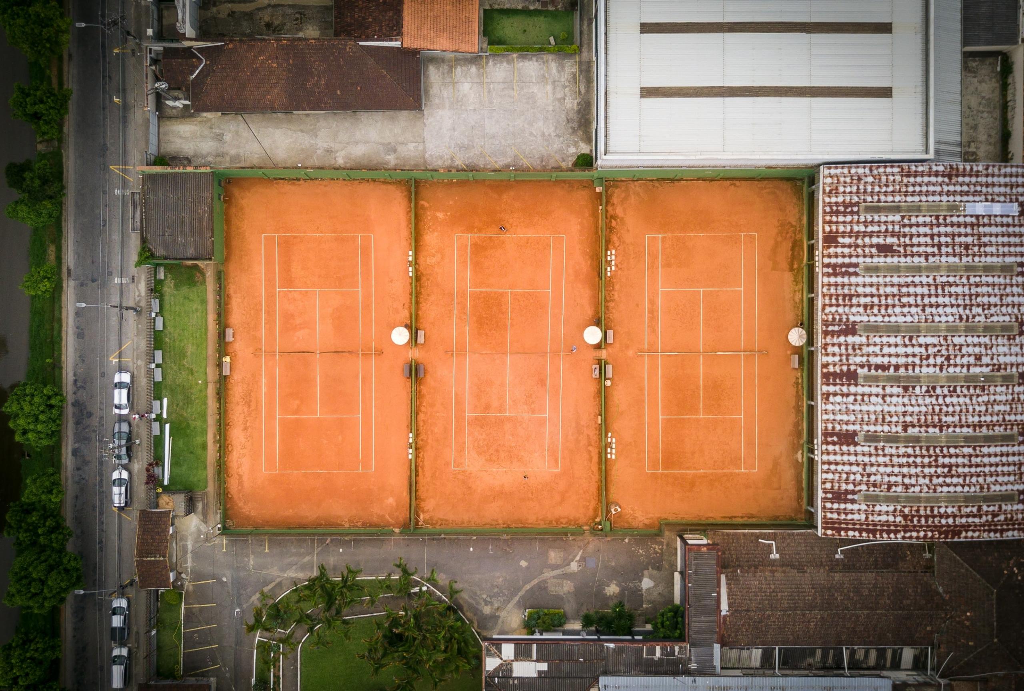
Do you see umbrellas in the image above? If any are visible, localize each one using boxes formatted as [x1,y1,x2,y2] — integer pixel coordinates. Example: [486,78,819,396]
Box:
[583,326,602,344]
[391,327,410,345]
[788,327,806,345]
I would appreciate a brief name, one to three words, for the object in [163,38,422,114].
house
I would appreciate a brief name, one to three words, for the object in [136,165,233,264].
building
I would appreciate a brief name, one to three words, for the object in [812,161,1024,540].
building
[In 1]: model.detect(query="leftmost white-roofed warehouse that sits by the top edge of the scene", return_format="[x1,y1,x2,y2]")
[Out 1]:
[589,0,934,170]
